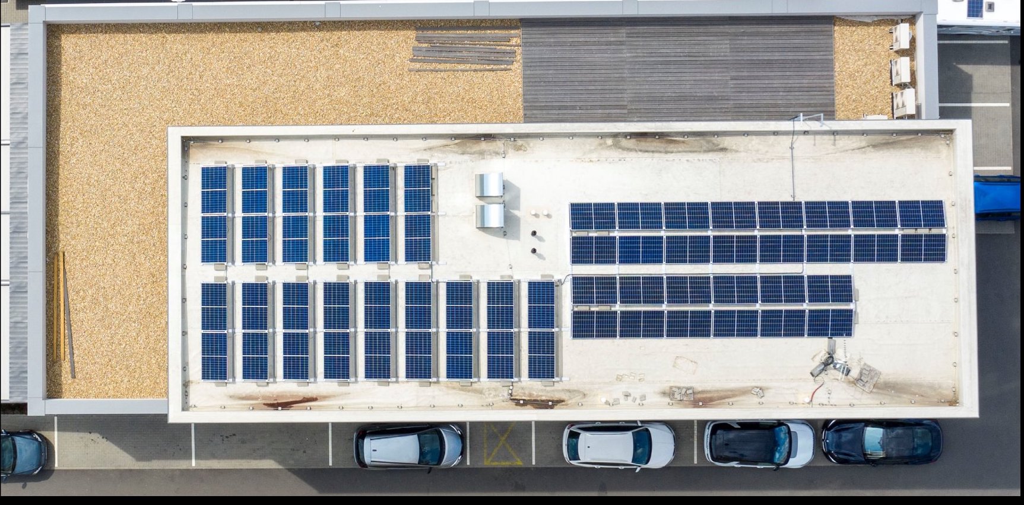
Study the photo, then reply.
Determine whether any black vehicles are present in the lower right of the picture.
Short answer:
Yes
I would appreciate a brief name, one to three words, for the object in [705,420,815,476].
car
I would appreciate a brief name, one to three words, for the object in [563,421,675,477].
car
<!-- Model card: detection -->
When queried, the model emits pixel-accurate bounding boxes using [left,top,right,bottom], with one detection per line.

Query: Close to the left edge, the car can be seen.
[0,425,47,483]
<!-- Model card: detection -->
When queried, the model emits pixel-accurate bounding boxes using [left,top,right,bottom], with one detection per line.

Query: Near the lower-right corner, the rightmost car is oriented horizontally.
[822,419,944,473]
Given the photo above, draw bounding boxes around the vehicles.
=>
[822,419,944,473]
[0,425,47,483]
[974,169,1024,227]
[937,0,1024,35]
[354,422,464,476]
[563,421,675,477]
[705,420,815,476]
